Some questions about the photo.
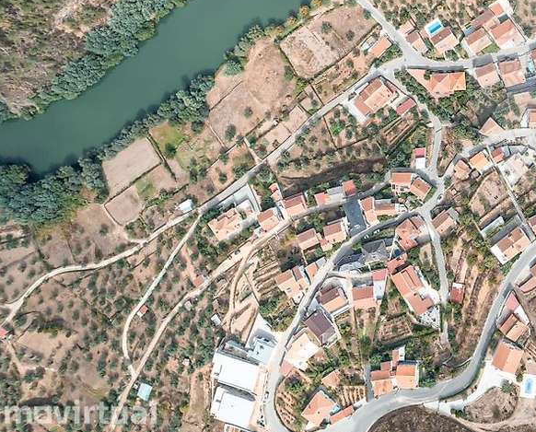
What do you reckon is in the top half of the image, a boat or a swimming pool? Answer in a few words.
swimming pool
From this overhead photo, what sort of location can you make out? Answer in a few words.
residential area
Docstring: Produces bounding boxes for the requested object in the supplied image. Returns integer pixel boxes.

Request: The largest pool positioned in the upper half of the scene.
[422,16,447,39]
